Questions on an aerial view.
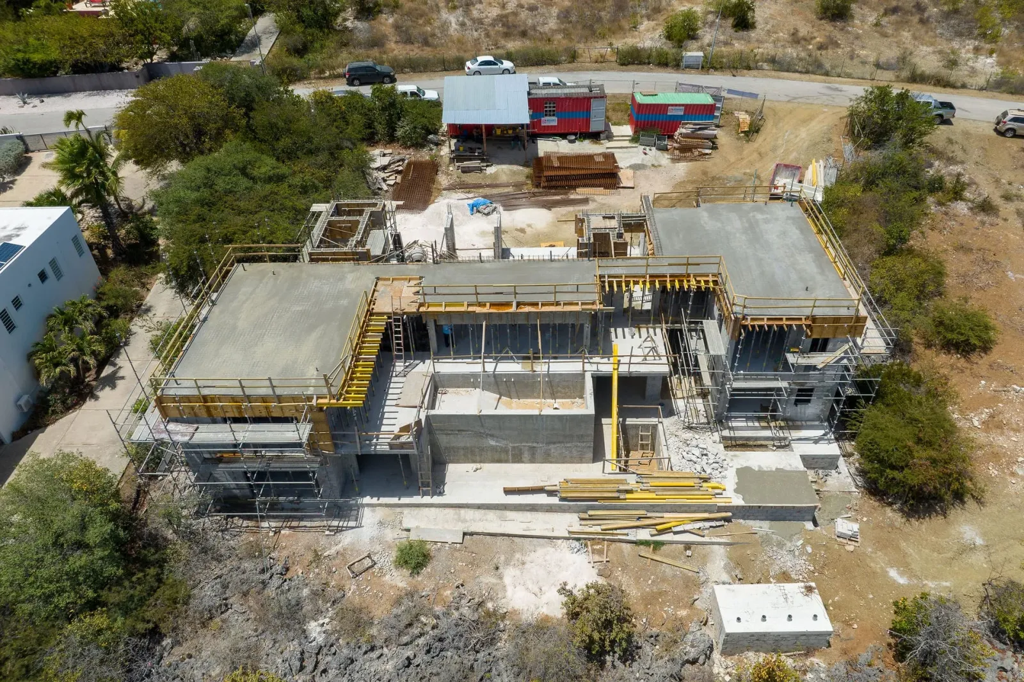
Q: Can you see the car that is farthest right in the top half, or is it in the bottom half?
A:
top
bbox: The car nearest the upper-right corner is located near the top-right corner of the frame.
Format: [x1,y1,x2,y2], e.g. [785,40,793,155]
[995,102,1024,134]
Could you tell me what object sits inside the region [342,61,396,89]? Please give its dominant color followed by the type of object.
black car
